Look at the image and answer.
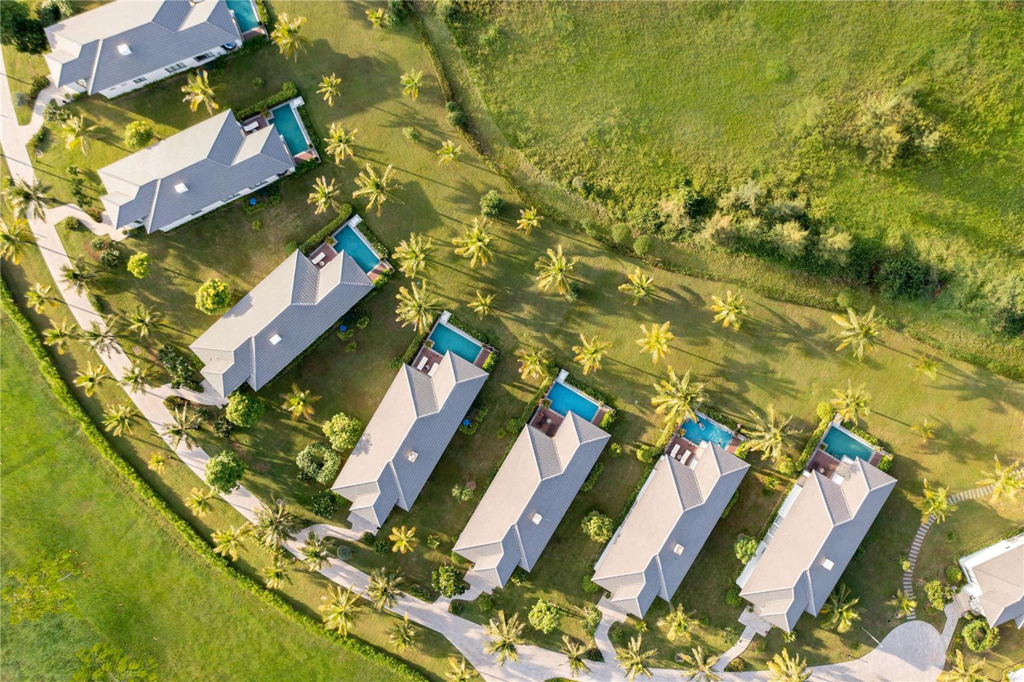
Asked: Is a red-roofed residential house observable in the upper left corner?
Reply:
No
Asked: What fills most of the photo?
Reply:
grass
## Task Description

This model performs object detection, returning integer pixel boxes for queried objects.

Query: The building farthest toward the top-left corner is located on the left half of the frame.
[43,0,243,99]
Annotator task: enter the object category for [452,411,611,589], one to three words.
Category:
house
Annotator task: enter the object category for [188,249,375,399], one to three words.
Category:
house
